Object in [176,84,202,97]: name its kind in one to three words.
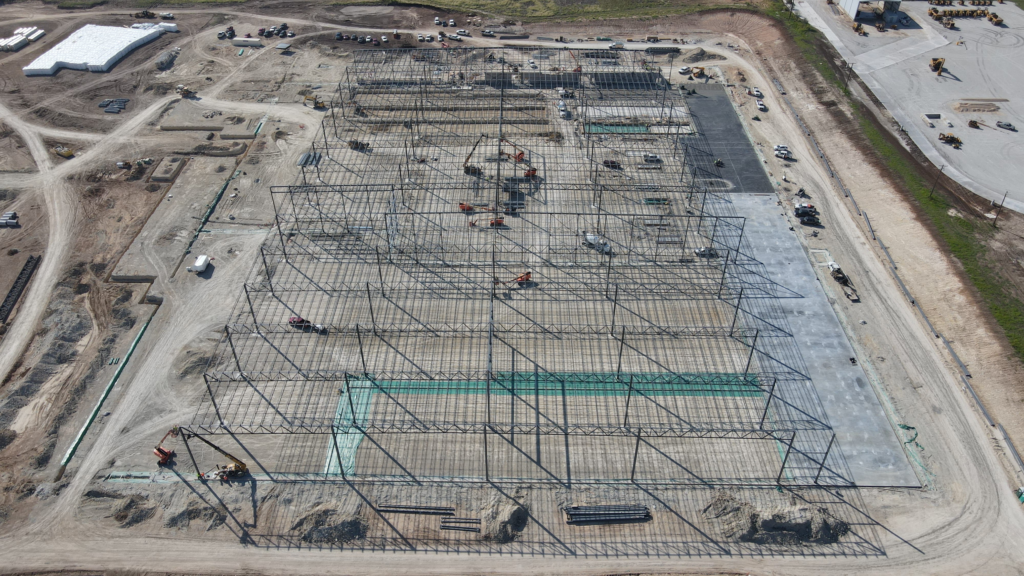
vehicle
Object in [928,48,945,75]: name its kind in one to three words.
work vehicle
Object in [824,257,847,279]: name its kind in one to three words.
truck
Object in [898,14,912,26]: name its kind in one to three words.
vehicle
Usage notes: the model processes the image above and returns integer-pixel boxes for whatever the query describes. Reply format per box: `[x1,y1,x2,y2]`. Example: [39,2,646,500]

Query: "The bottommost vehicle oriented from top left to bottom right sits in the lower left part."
[178,431,248,483]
